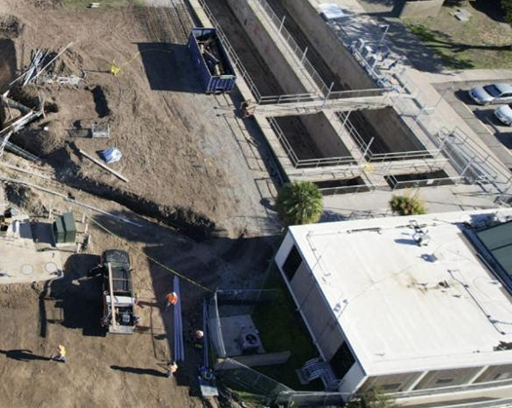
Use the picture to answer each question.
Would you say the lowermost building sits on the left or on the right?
right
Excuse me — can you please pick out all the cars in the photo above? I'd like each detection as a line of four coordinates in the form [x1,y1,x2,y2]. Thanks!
[470,82,512,107]
[492,107,512,128]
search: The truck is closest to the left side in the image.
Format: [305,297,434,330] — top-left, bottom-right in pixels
[104,248,148,339]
